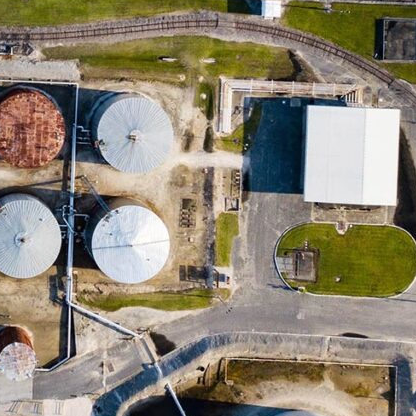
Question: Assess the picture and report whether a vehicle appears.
No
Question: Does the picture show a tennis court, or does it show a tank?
tank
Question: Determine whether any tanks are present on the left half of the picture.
Yes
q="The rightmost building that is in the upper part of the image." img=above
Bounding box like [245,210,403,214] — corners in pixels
[299,106,400,206]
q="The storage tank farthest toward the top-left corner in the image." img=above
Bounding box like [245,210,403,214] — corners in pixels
[0,85,66,167]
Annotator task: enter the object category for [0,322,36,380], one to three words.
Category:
storage tank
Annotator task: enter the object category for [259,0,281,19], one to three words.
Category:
shed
